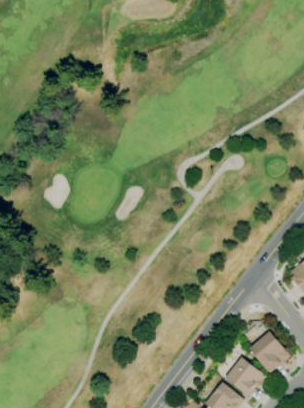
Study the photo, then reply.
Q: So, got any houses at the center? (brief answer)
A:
No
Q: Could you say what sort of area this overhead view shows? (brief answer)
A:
golf course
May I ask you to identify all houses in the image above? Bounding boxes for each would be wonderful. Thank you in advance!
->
[206,382,242,408]
[292,262,304,286]
[250,332,290,372]
[226,358,264,396]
